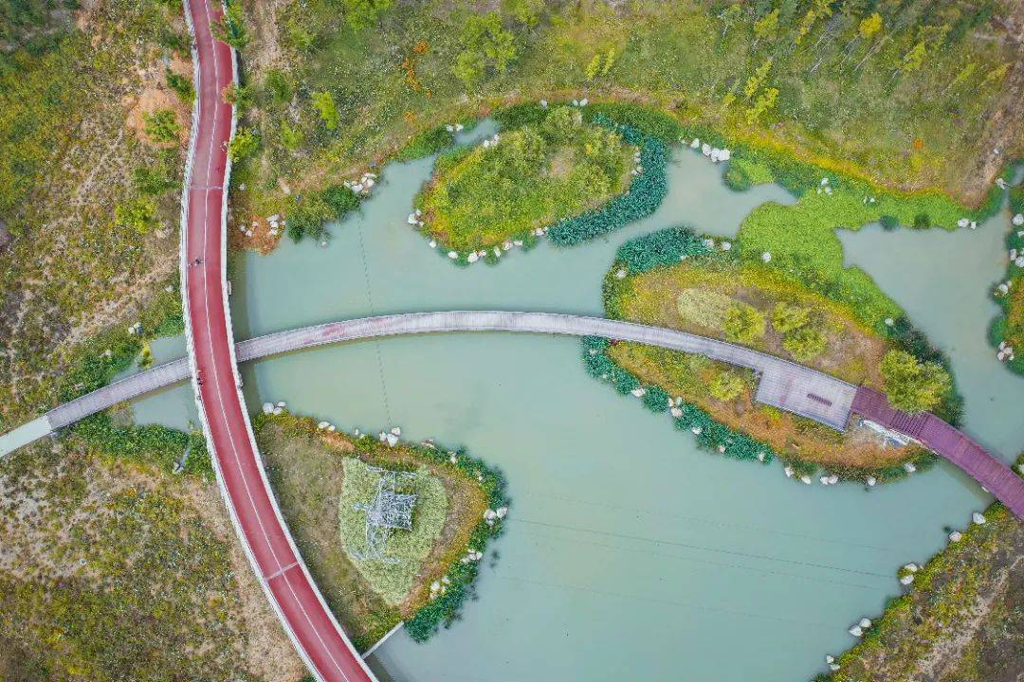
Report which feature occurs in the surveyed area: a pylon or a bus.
pylon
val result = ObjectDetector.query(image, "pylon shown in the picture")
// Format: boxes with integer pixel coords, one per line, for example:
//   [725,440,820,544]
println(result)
[352,467,418,563]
